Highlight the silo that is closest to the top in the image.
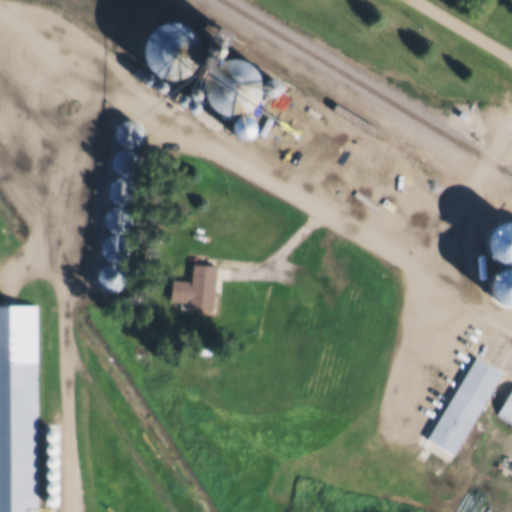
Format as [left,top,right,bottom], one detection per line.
[139,24,200,80]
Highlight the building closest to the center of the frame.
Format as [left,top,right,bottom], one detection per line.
[172,266,216,314]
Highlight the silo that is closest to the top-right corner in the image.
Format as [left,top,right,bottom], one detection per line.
[489,220,512,266]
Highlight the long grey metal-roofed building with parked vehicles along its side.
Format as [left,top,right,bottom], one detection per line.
[426,360,501,460]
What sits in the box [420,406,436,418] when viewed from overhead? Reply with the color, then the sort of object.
white vehicle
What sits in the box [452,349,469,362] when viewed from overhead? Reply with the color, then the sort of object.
white vehicle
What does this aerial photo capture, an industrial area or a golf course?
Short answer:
industrial area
